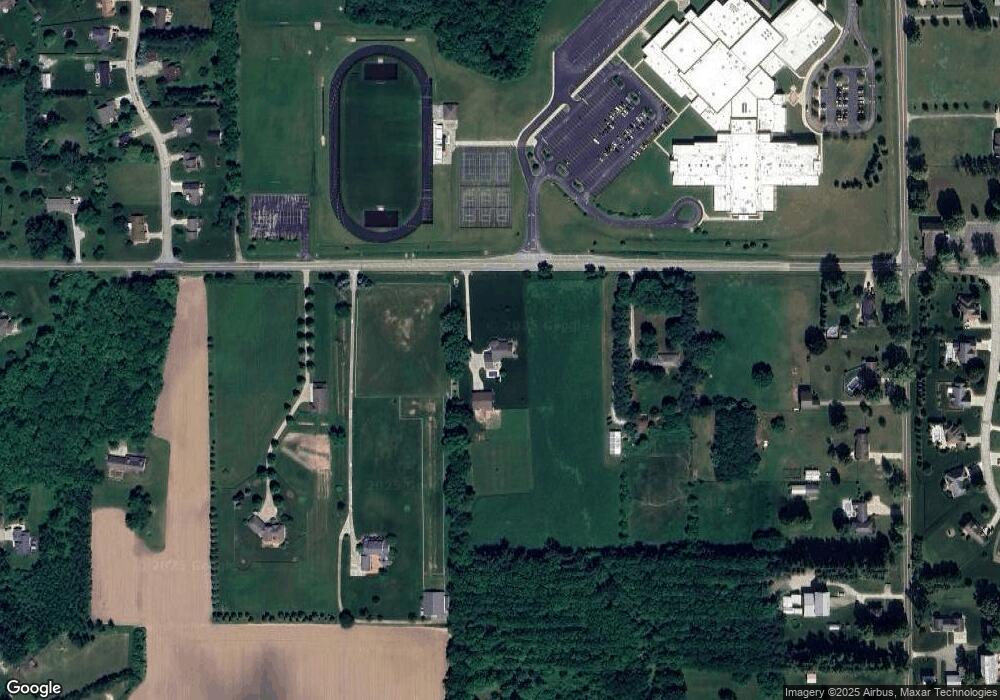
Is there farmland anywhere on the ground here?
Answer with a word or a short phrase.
Yes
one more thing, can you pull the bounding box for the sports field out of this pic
[341,57,420,229]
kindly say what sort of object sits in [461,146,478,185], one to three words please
tennis court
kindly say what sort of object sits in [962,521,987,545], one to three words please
house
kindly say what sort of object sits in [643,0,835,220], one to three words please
building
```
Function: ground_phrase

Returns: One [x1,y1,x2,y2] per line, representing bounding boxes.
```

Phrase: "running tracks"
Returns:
[329,45,433,242]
